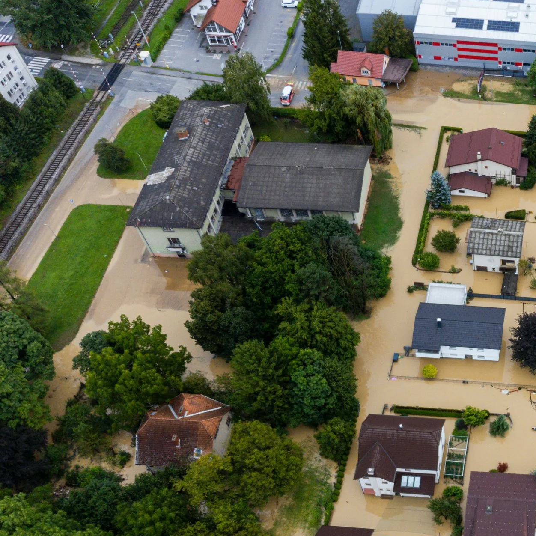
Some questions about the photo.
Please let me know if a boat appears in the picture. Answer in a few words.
No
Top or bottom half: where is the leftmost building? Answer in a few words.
top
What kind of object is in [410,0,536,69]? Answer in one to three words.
building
